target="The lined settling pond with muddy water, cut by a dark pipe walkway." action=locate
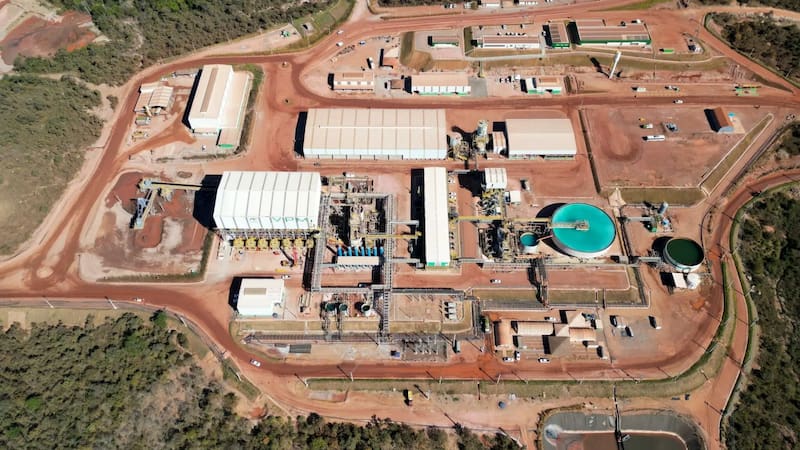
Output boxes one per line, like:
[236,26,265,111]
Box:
[534,404,710,450]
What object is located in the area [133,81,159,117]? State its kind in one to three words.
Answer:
shed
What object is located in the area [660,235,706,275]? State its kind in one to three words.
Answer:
water tank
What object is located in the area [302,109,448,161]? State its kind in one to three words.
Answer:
building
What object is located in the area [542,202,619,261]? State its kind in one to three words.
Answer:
storage tank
